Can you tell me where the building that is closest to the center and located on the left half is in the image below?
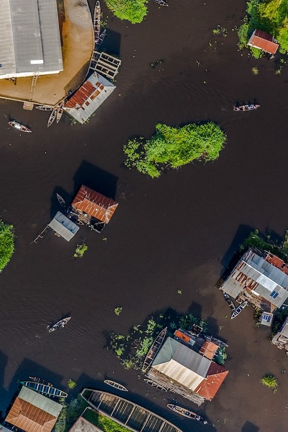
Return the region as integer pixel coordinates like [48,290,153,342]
[72,185,119,224]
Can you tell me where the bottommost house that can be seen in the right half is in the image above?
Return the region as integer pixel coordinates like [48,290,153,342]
[145,330,228,405]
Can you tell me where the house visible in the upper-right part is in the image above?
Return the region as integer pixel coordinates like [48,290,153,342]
[245,29,279,55]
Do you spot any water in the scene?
Yes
